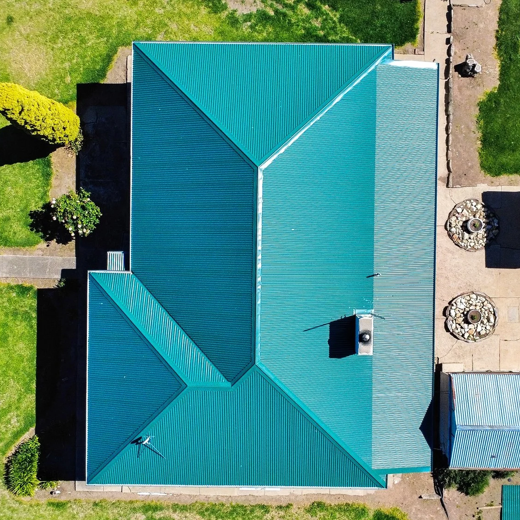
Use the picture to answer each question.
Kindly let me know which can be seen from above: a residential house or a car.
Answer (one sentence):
It is a residential house that can be seen here.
